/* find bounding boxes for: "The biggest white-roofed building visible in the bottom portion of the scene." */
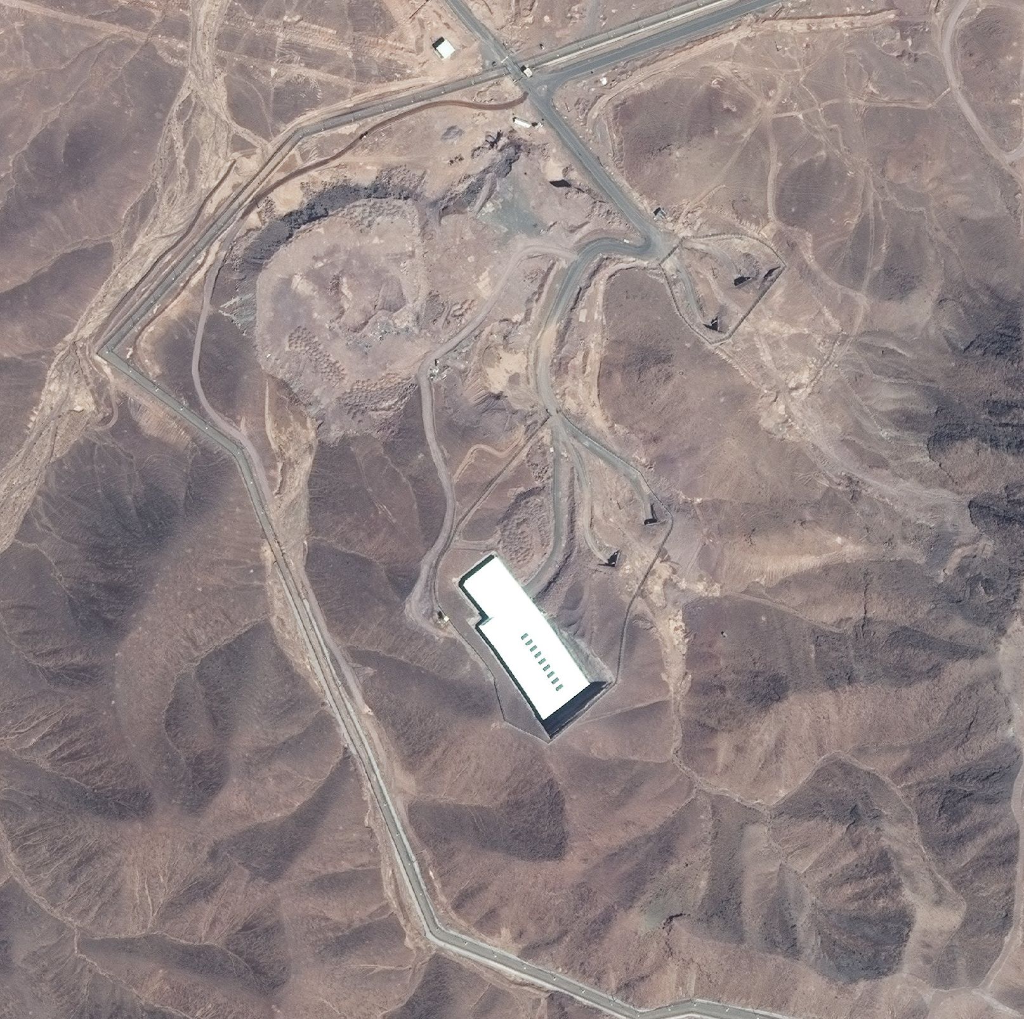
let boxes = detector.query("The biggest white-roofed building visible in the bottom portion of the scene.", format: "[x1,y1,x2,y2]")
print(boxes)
[463,557,592,720]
